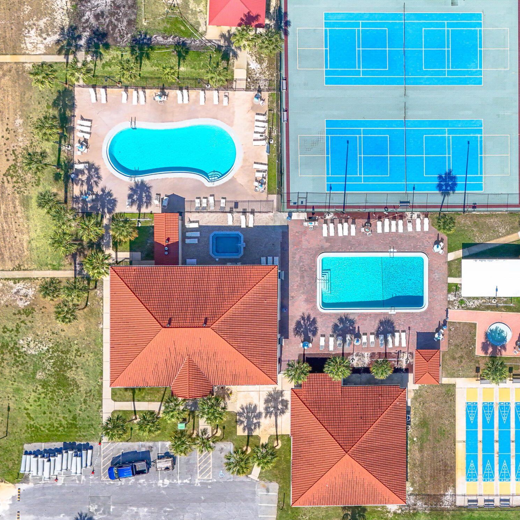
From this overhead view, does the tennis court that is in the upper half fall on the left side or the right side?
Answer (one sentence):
The tennis court that is in the upper half sits on the right side.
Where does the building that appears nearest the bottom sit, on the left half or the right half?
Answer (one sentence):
It is on the right.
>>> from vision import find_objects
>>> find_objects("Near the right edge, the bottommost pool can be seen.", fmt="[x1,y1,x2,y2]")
[484,320,512,349]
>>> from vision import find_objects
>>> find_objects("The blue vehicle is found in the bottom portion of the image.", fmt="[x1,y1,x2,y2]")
[109,461,150,480]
